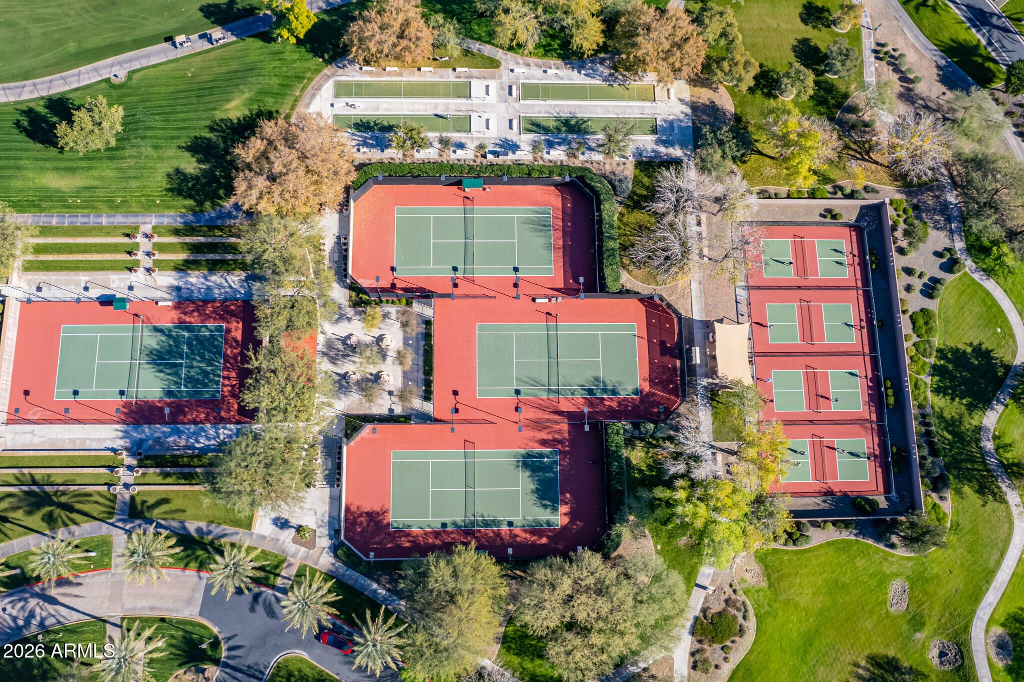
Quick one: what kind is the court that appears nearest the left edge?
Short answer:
tennis court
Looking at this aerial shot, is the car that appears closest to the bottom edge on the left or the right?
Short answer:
left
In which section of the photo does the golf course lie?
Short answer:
top left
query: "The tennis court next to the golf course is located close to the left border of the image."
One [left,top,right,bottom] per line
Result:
[5,300,261,424]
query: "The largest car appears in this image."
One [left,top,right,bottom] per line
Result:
[320,630,354,659]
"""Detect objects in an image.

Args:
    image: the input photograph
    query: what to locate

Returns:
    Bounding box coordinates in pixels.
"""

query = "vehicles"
[211,30,228,47]
[320,630,354,659]
[176,34,193,51]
